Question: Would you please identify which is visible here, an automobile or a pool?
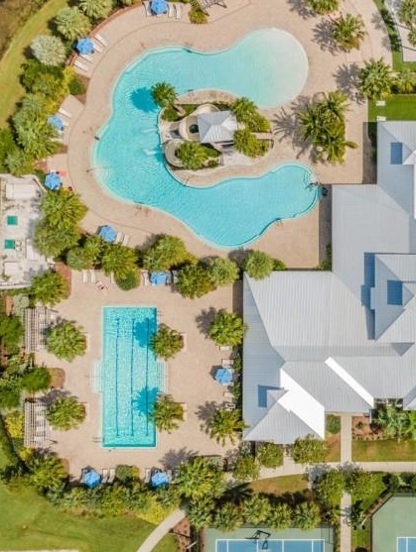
pool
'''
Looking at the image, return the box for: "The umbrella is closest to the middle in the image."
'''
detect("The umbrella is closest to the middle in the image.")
[151,270,168,287]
